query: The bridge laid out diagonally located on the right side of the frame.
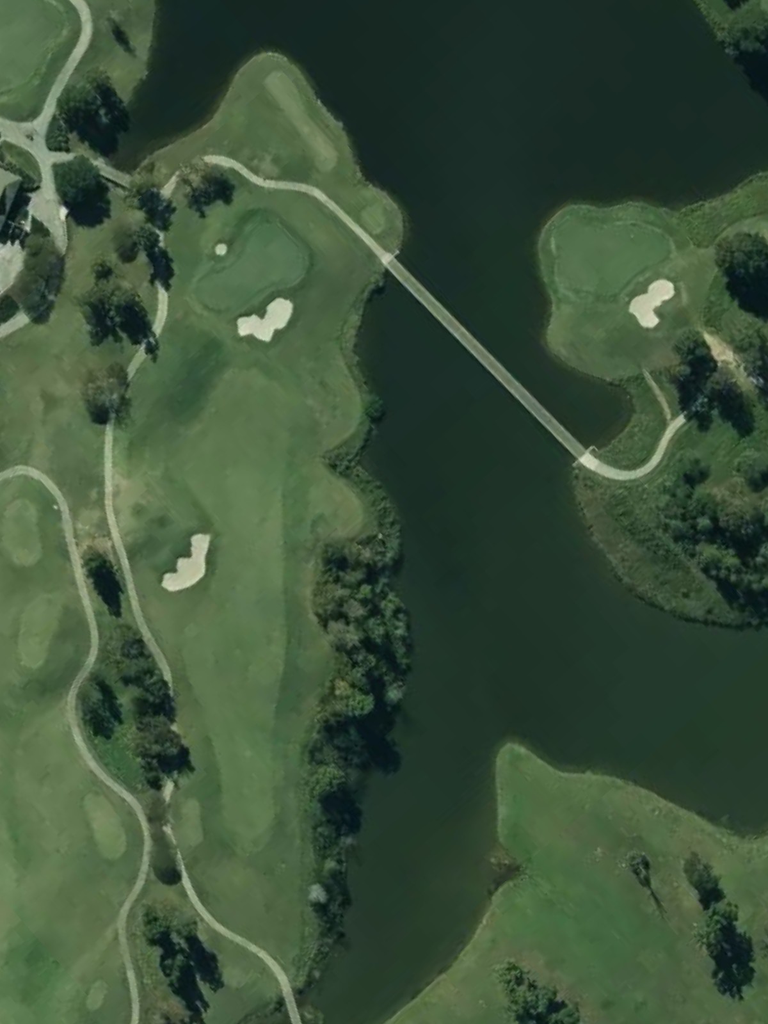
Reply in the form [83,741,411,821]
[378,246,602,469]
